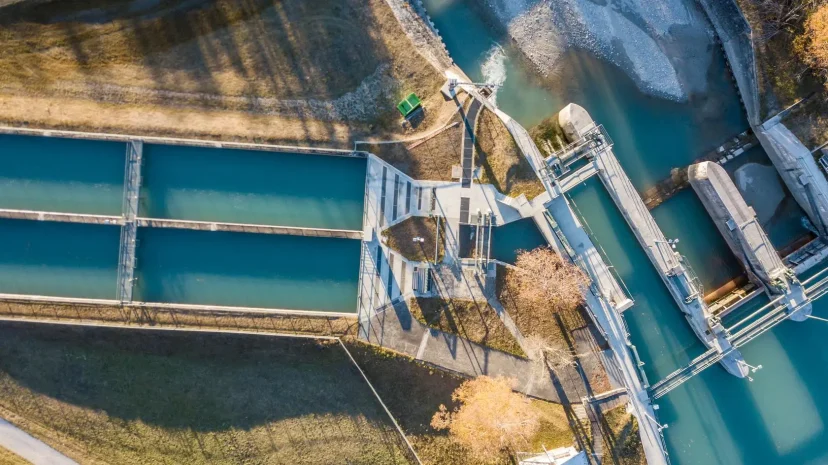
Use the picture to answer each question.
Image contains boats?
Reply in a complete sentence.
No, the frame has no boat in it.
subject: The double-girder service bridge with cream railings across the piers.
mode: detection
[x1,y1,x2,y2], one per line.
[648,268,828,411]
